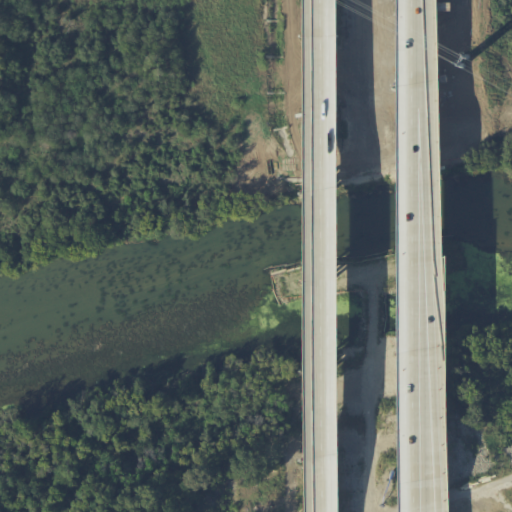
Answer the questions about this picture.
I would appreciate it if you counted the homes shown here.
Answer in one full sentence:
The photo contains no homes.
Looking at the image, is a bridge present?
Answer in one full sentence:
Yes, there's a bridge down there.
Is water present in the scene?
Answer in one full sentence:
Yes, water can be seen from above here.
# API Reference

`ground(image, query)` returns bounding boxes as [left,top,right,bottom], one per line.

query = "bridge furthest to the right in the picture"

[394,0,452,512]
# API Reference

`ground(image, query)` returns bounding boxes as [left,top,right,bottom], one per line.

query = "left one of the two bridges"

[296,0,338,512]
